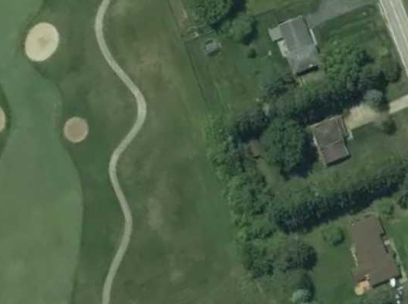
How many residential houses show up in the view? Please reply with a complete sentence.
In total, there are 3 residential houses in the scene.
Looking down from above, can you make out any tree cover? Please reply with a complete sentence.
Yes, tree cover can be seen from above here.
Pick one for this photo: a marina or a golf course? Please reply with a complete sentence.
The area seen from above is a golf course.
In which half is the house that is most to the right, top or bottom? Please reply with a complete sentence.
The bottom half of the photo is where the house that is most to the right is.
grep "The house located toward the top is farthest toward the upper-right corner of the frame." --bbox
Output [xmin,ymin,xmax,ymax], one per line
[270,17,319,74]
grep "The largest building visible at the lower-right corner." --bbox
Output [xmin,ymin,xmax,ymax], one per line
[348,215,406,287]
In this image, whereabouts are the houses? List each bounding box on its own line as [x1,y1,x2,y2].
[310,116,351,164]
[270,17,319,74]
[348,215,406,287]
